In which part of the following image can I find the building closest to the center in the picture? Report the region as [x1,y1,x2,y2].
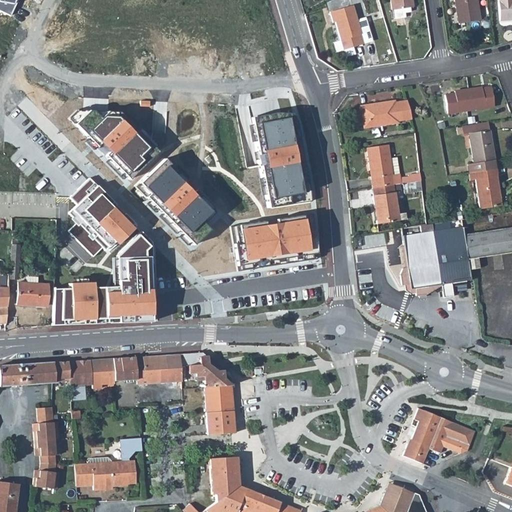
[229,214,322,276]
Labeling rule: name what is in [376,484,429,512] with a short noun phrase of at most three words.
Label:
building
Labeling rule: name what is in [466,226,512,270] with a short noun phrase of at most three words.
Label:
building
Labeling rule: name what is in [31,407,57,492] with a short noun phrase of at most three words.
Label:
house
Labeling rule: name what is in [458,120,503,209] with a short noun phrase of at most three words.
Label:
house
